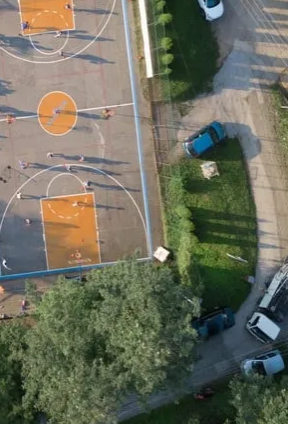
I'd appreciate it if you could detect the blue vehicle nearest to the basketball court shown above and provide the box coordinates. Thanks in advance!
[181,121,233,157]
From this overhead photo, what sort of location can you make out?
sports ground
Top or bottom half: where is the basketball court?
top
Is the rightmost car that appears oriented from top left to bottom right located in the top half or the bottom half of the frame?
bottom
